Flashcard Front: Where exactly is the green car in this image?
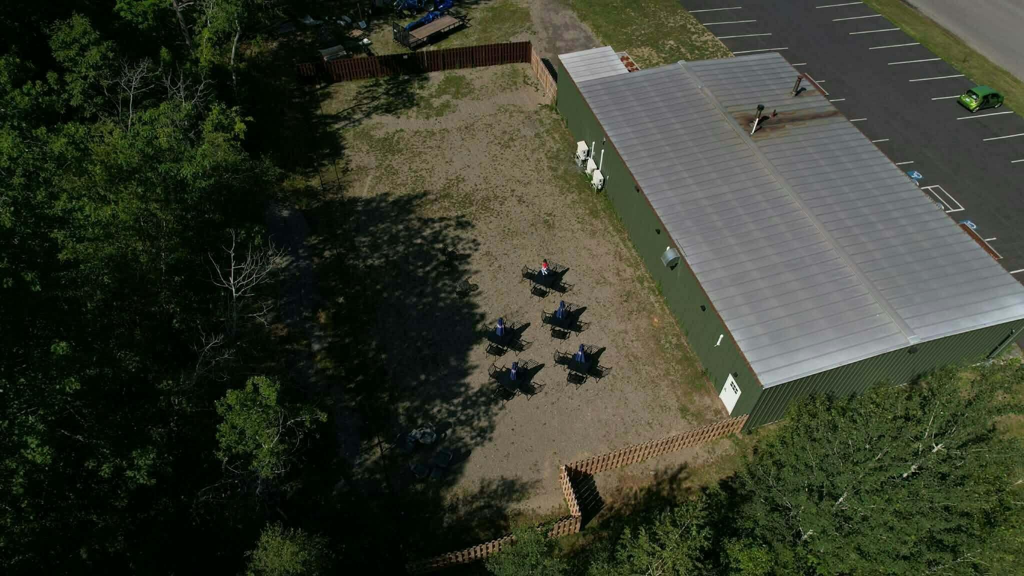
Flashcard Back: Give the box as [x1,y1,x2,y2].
[957,80,1007,111]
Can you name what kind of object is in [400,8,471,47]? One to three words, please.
trailer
